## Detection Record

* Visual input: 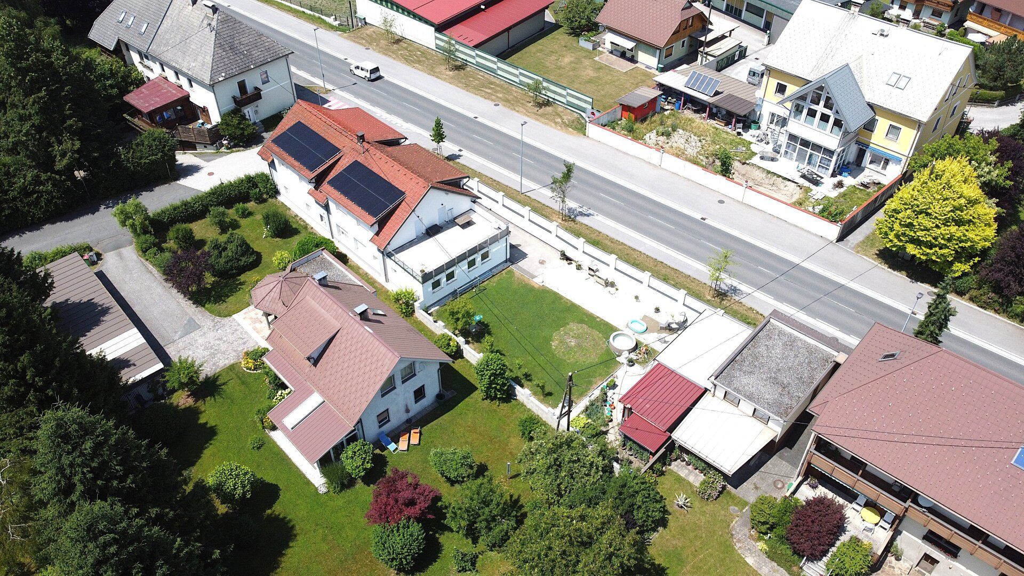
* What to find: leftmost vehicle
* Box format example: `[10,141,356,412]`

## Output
[349,60,380,79]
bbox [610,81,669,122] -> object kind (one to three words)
shed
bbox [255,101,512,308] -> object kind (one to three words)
house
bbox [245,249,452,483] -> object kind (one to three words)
house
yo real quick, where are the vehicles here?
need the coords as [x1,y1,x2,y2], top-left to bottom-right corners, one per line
[749,65,765,82]
[349,60,380,79]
